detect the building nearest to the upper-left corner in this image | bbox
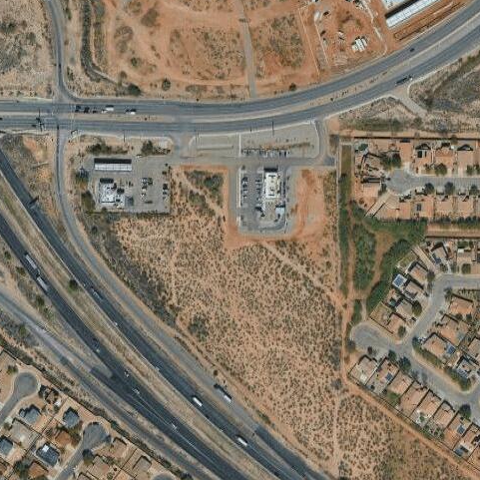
[100,183,133,208]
